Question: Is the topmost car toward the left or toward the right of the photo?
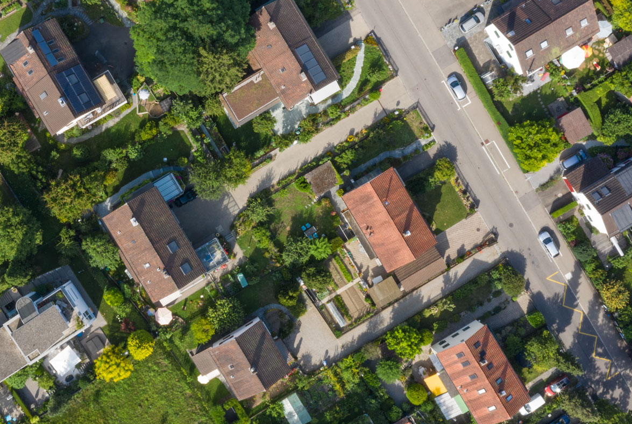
right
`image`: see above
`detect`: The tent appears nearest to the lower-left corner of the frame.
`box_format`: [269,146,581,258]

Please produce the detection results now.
[49,342,82,377]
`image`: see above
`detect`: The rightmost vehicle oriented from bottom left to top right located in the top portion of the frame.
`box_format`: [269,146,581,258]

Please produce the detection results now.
[559,147,587,171]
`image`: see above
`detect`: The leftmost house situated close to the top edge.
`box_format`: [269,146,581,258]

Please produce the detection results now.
[0,21,127,135]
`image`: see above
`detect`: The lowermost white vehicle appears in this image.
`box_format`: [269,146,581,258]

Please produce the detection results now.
[517,393,551,418]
